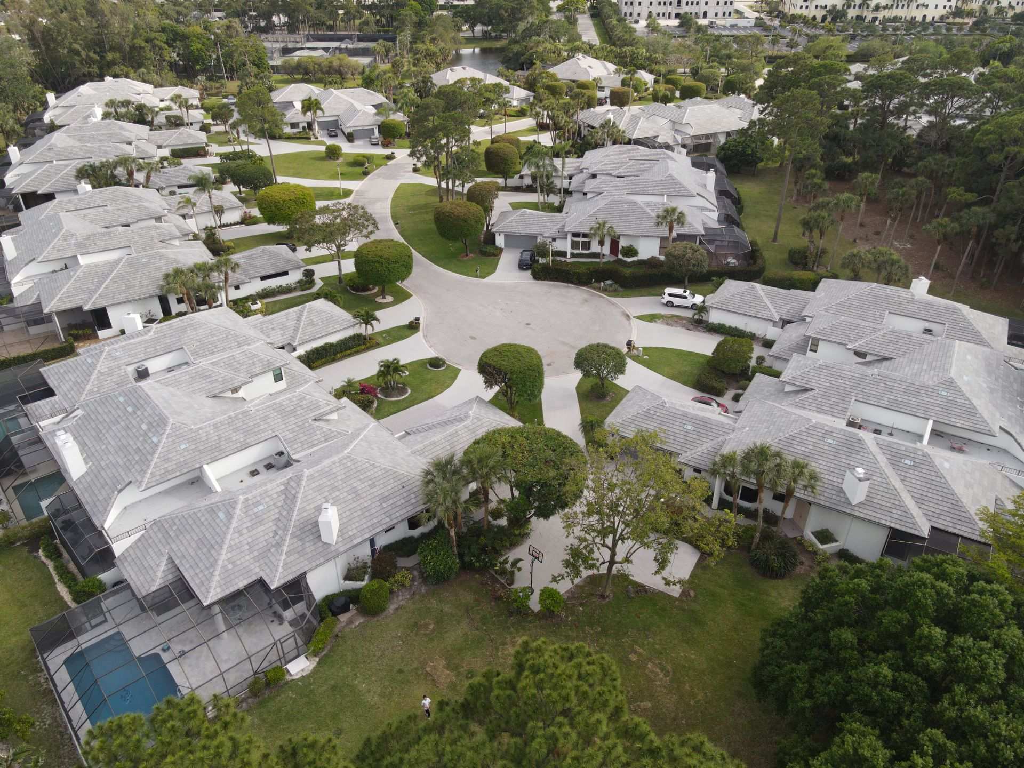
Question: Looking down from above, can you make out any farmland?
No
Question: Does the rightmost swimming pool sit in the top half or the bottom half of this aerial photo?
bottom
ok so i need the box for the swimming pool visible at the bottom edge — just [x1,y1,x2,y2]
[63,632,194,764]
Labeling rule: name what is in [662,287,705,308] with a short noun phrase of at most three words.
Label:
car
